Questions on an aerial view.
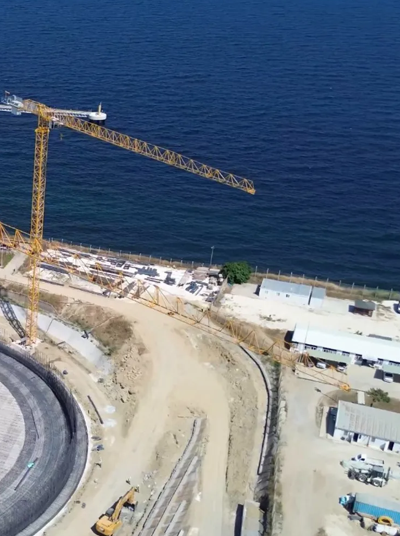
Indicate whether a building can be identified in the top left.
No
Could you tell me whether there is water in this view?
Yes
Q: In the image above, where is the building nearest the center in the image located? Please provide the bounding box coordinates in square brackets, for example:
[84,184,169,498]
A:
[260,277,312,306]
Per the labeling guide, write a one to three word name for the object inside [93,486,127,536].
work vehicle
